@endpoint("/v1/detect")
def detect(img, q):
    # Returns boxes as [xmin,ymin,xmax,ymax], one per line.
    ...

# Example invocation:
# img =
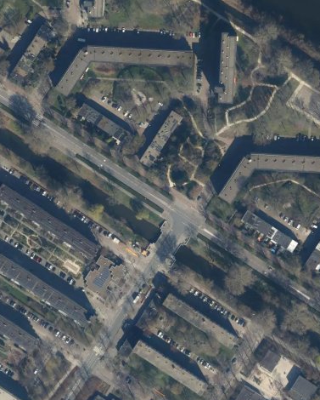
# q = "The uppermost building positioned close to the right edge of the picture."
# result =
[218,153,320,202]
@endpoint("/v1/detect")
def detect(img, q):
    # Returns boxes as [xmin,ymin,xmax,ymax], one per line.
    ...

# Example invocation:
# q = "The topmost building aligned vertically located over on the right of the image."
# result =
[213,32,238,104]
